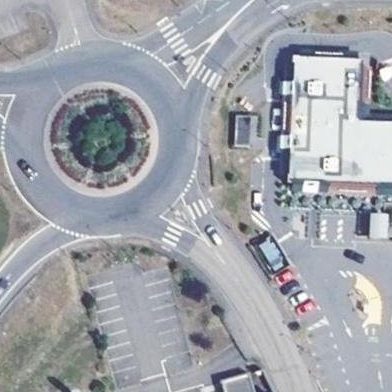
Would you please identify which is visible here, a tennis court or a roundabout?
roundabout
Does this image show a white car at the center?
Yes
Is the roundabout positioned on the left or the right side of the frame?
left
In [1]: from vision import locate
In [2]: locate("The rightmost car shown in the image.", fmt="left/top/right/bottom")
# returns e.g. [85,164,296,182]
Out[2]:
[344,248,366,264]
